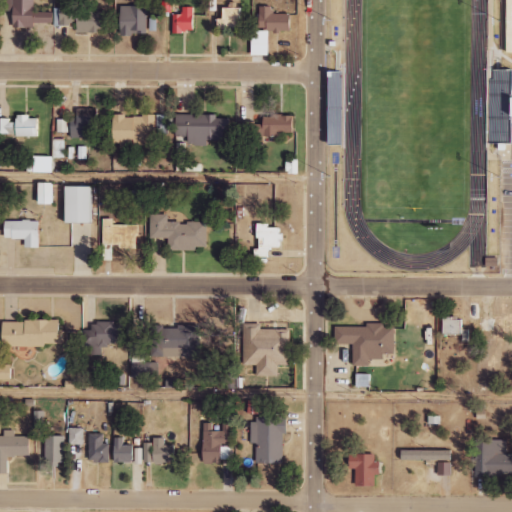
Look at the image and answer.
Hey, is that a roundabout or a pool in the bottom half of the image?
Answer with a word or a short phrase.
pool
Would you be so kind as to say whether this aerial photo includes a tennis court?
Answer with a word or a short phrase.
No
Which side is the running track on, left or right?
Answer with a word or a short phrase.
right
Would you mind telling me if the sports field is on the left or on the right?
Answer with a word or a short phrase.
right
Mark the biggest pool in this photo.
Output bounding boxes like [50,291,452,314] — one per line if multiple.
[44,356,68,381]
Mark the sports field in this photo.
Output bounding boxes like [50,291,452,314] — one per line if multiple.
[362,0,470,254]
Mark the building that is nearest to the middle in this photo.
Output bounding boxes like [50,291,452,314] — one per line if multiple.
[254,224,282,262]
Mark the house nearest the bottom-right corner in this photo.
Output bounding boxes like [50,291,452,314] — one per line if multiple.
[481,440,512,474]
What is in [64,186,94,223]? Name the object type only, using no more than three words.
building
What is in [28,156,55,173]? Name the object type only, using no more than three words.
shed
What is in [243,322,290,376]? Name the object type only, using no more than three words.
house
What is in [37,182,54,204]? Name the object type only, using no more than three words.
shed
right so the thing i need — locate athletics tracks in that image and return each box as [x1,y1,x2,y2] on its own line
[345,0,486,270]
